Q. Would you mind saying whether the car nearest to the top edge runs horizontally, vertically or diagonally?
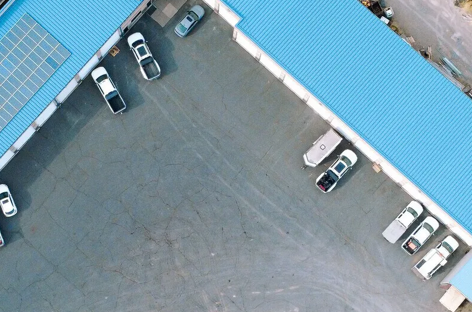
diagonally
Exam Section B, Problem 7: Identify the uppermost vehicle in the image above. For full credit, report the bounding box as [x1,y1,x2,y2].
[174,5,205,39]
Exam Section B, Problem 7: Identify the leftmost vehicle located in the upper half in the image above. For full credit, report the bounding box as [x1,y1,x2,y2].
[92,67,125,117]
